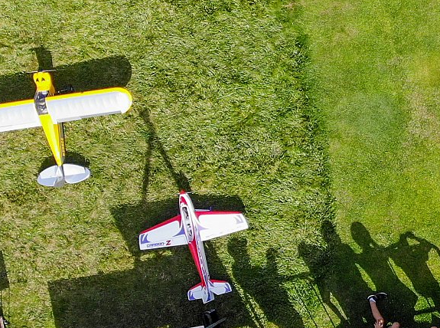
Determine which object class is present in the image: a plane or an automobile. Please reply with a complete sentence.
It is a plane that can be seen here.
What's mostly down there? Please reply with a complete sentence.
The scene is dominated by grass.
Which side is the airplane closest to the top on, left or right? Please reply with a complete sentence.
The airplane closest to the top appears in the left half of the scene.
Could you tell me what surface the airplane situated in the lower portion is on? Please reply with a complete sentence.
In this view, the airplane situated in the lower portion is located on the grass.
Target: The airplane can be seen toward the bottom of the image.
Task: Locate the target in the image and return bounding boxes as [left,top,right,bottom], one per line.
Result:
[140,190,248,305]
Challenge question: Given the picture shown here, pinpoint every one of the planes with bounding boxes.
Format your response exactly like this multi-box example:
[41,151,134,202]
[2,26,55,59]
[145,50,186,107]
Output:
[140,190,248,305]
[0,69,134,189]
